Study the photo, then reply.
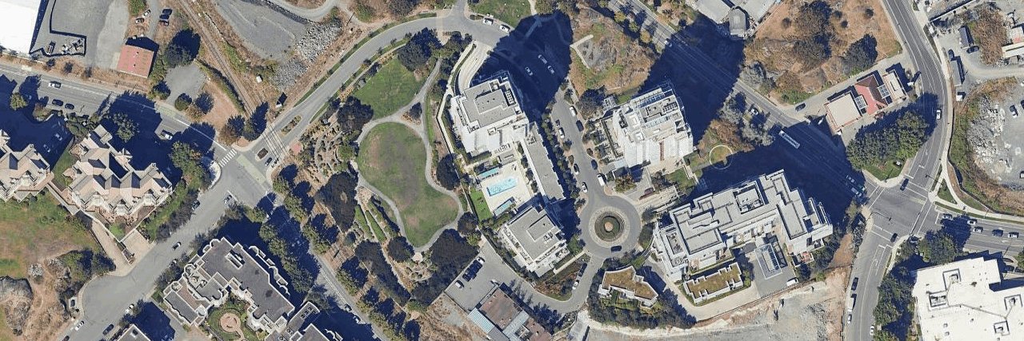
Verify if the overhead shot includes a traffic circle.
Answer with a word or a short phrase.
Yes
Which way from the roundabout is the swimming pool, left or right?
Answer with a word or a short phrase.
on the left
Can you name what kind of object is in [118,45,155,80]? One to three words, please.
shed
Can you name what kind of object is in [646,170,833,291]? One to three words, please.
building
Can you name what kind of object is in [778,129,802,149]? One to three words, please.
bus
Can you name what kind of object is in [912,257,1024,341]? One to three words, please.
building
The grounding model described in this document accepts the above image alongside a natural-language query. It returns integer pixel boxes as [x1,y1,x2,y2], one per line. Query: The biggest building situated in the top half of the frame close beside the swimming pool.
[451,74,529,160]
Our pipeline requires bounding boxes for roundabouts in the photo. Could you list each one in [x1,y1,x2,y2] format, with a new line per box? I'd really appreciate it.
[576,194,642,258]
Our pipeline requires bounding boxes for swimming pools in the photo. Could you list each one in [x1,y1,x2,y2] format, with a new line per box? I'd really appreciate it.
[480,161,533,215]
